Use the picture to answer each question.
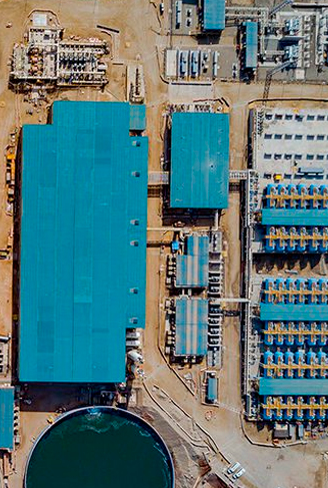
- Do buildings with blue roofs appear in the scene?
Yes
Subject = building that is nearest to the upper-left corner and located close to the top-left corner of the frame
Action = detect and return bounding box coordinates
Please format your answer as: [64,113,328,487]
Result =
[10,9,108,91]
